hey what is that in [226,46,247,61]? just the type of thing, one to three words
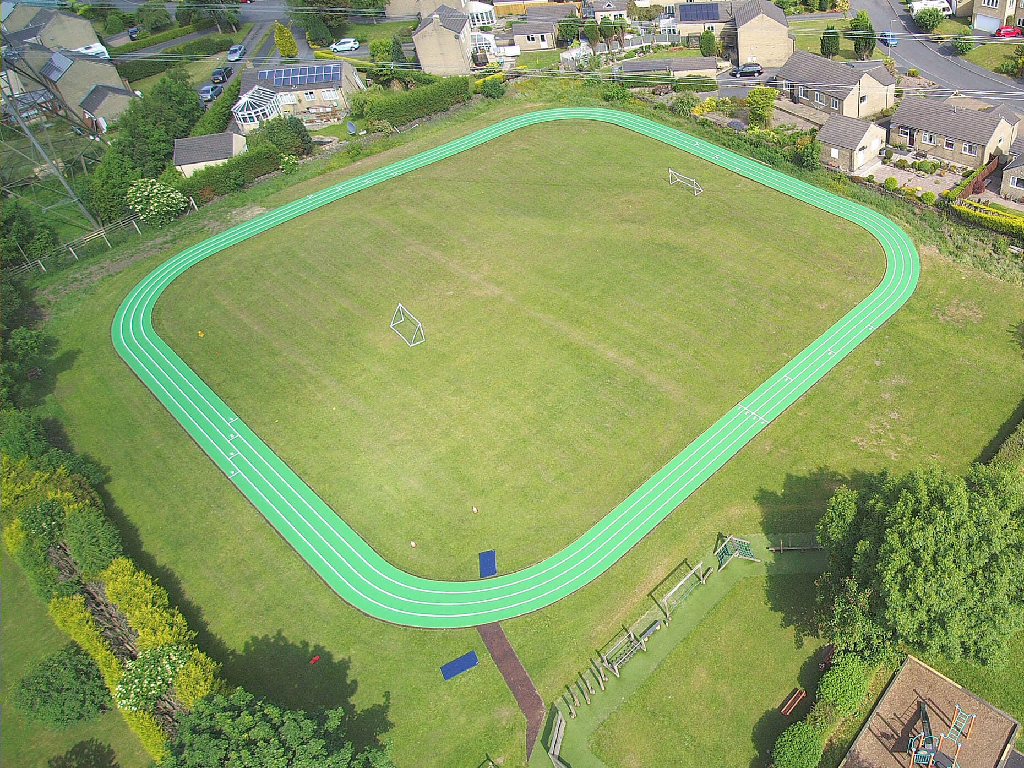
car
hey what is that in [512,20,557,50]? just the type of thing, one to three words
building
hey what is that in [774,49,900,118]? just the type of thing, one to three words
house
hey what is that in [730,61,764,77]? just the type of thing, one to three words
car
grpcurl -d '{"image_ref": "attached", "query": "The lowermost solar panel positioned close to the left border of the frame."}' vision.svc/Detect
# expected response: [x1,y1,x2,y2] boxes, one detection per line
[41,52,72,79]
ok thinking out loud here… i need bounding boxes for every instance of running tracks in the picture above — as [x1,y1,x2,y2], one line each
[110,107,922,630]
